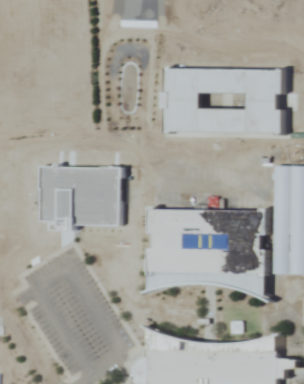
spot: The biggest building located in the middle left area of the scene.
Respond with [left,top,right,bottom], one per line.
[39,164,124,225]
